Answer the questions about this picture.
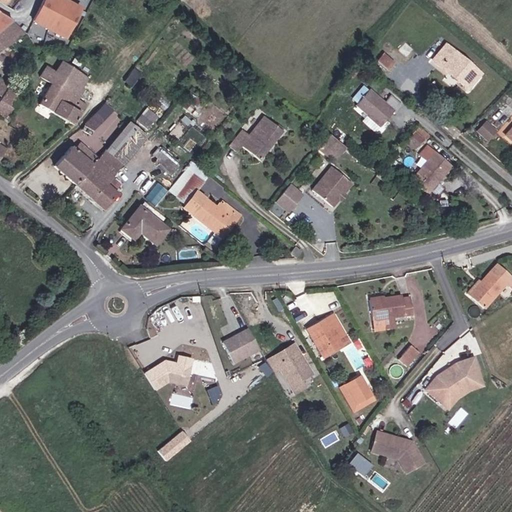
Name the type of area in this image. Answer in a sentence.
The picture captures a residential area.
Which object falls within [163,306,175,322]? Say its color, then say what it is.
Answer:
white vehicle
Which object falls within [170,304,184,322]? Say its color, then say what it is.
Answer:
white vehicle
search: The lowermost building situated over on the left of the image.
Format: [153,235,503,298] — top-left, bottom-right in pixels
[157,432,192,462]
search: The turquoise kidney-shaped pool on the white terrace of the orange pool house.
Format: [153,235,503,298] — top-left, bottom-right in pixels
[190,223,210,243]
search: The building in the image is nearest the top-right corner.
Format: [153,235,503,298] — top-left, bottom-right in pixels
[428,42,484,94]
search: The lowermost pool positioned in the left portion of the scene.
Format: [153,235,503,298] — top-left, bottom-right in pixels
[178,249,200,261]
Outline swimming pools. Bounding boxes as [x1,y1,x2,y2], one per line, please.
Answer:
[403,155,415,168]
[320,430,340,448]
[190,223,210,243]
[389,363,404,378]
[467,304,480,318]
[178,249,200,261]
[368,471,390,492]
[344,344,364,371]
